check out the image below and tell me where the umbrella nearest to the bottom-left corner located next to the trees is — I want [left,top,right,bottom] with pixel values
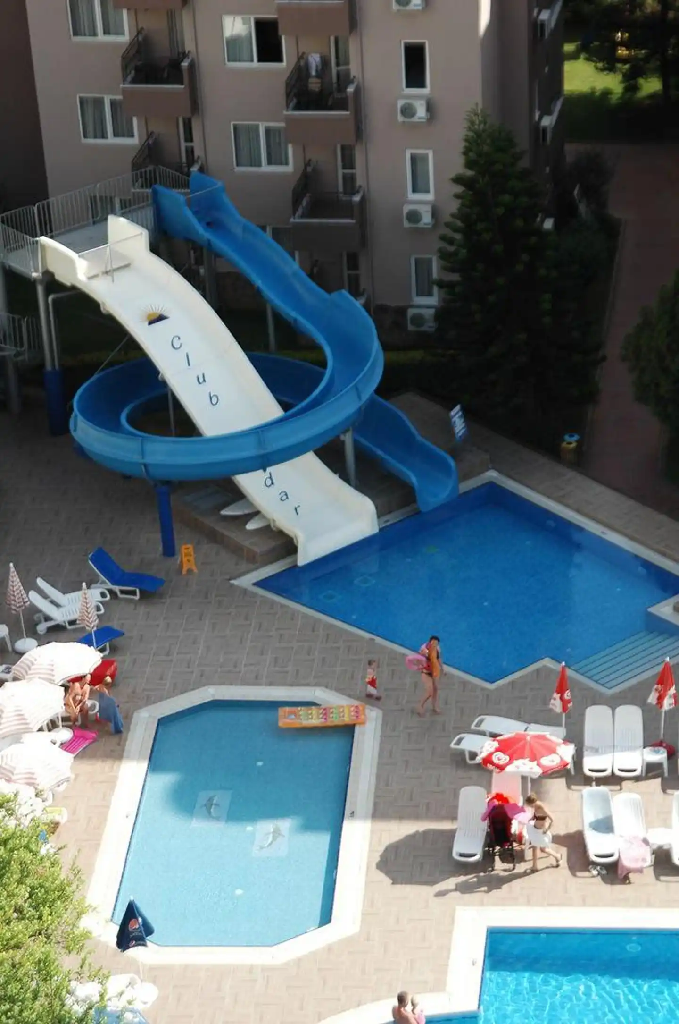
[109,894,156,1003]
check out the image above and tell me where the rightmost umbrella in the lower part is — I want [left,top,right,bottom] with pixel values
[651,653,678,759]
